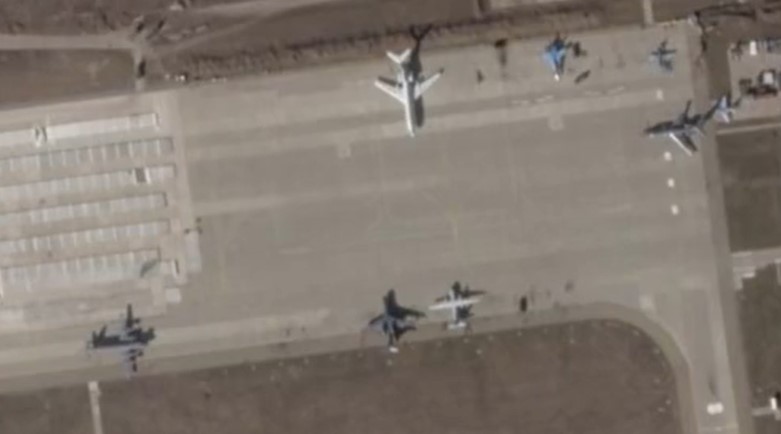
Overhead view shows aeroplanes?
Yes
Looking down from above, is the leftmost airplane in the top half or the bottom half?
bottom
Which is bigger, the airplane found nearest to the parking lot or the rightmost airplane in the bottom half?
the rightmost airplane in the bottom half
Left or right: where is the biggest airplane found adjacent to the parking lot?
right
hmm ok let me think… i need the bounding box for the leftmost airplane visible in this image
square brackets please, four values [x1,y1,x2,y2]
[92,314,149,381]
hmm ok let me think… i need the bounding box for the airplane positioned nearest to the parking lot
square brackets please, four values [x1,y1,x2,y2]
[711,96,734,124]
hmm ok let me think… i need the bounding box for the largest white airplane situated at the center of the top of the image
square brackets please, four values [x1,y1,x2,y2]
[373,50,437,136]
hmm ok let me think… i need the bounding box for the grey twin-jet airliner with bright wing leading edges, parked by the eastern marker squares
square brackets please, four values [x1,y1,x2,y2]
[643,101,706,153]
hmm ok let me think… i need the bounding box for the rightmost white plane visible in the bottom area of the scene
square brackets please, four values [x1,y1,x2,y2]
[430,289,480,330]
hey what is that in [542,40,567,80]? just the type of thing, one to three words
airplane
